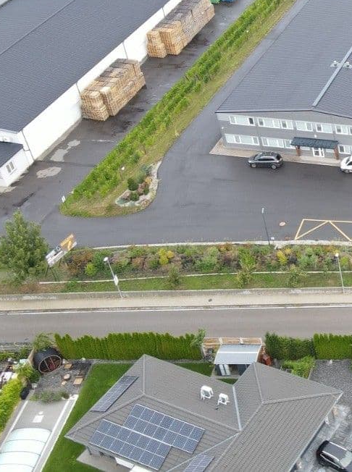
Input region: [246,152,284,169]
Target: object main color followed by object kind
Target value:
gray car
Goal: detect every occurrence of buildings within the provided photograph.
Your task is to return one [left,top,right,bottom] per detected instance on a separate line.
[214,0,352,169]
[0,0,174,165]
[63,353,343,472]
